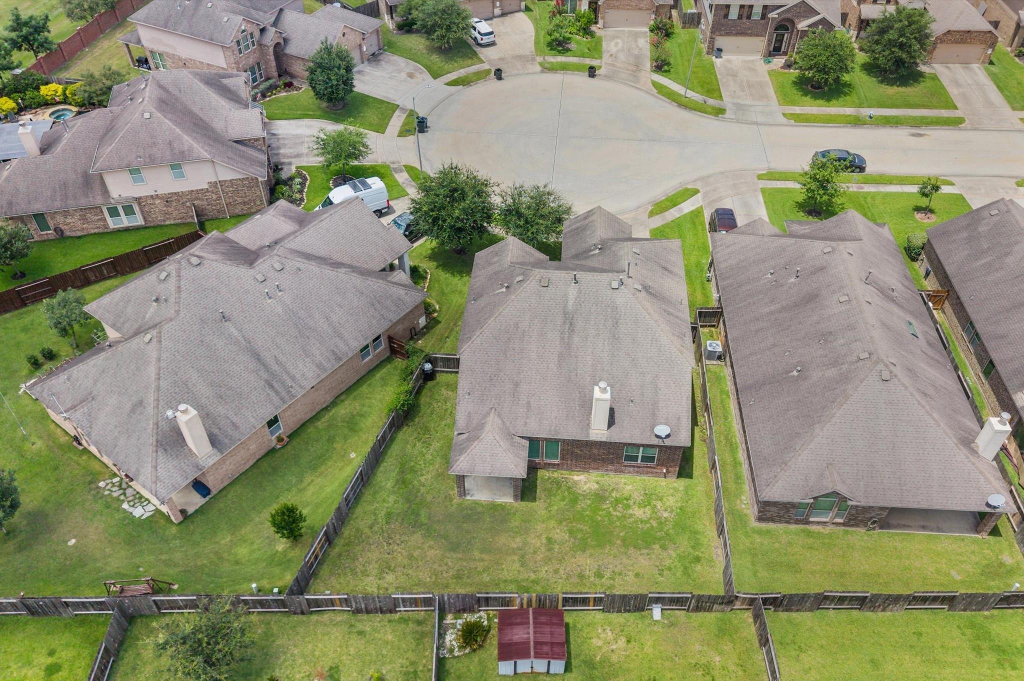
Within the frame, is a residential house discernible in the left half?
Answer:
Yes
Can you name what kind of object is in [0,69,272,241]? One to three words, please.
house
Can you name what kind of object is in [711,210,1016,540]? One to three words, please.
house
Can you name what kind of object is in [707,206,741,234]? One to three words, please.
car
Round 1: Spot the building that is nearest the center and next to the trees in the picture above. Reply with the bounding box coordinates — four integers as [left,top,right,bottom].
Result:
[448,206,695,502]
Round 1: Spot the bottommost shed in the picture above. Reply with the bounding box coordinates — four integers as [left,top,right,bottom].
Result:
[498,608,568,676]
